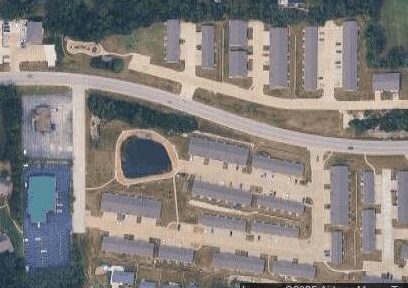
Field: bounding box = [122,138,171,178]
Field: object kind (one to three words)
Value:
pond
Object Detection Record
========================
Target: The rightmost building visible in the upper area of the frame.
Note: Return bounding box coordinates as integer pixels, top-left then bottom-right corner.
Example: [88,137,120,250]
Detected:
[374,73,401,92]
